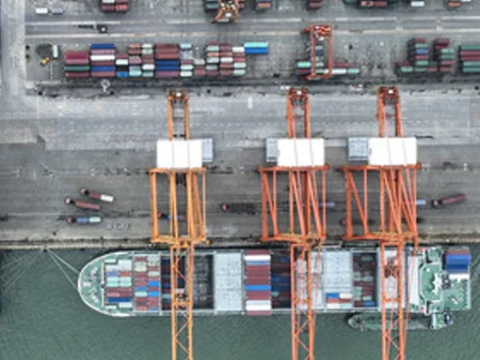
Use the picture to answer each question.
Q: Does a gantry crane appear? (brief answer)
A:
Yes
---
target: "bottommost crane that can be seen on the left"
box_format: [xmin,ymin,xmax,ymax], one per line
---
[146,87,208,360]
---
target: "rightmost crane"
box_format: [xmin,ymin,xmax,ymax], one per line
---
[336,83,419,360]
